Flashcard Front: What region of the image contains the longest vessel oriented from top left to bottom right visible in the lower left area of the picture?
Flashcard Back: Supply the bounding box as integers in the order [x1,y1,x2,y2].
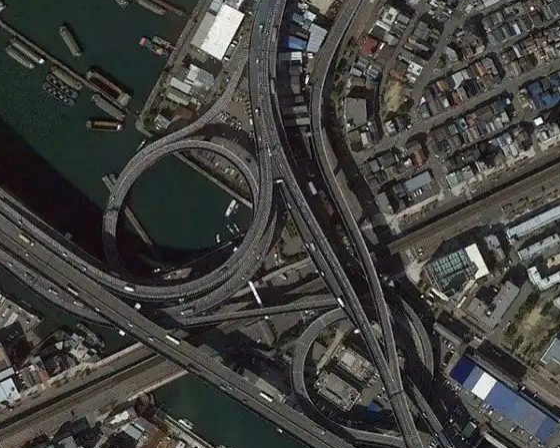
[75,319,103,349]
